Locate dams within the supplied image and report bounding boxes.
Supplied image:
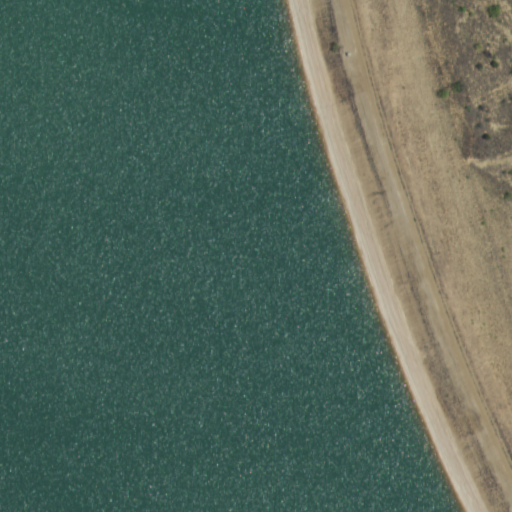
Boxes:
[286,0,509,512]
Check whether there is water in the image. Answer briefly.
Yes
